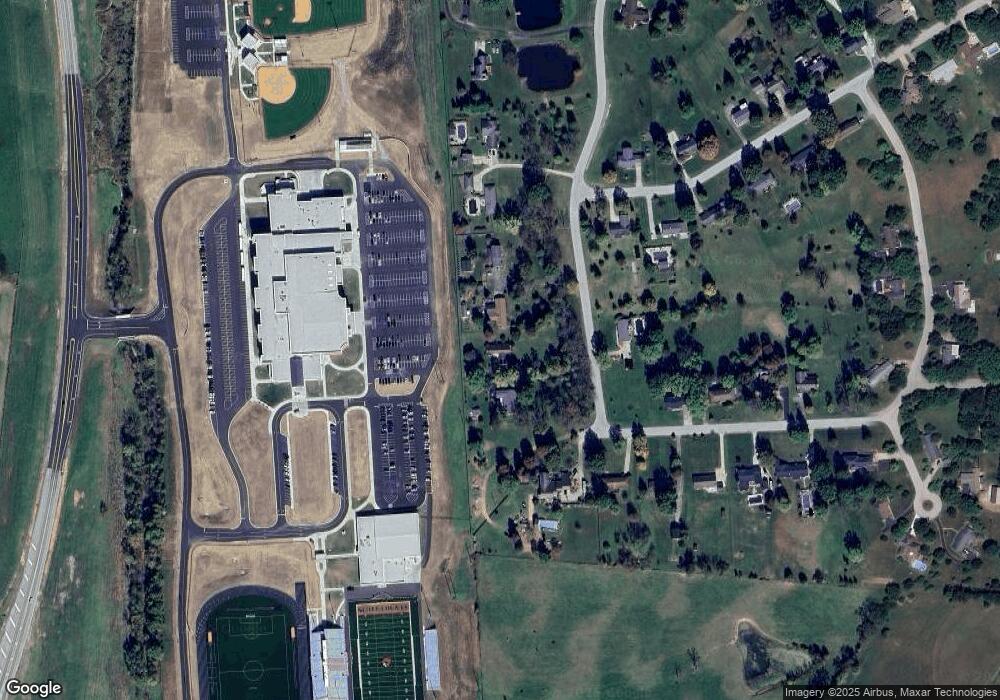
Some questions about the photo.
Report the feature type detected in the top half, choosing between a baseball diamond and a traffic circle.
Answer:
baseball diamond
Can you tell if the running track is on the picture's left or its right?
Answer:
left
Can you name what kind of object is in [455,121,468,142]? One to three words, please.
swimming pool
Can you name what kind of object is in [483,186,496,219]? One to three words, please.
house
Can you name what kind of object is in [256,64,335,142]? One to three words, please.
baseball field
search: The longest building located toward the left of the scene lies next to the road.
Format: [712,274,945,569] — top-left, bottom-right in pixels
[252,189,354,388]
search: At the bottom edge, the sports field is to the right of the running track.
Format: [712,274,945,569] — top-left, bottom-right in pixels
[344,583,427,700]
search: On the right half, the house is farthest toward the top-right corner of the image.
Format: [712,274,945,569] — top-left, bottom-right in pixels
[959,40,984,68]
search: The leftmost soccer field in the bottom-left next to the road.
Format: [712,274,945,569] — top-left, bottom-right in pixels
[211,595,296,700]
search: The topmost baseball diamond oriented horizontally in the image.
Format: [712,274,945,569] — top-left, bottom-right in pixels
[249,0,370,40]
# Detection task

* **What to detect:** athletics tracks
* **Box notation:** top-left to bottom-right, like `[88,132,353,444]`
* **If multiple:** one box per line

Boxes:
[196,582,312,700]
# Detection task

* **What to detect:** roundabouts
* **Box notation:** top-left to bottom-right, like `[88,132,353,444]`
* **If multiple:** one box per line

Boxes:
[914,491,942,519]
